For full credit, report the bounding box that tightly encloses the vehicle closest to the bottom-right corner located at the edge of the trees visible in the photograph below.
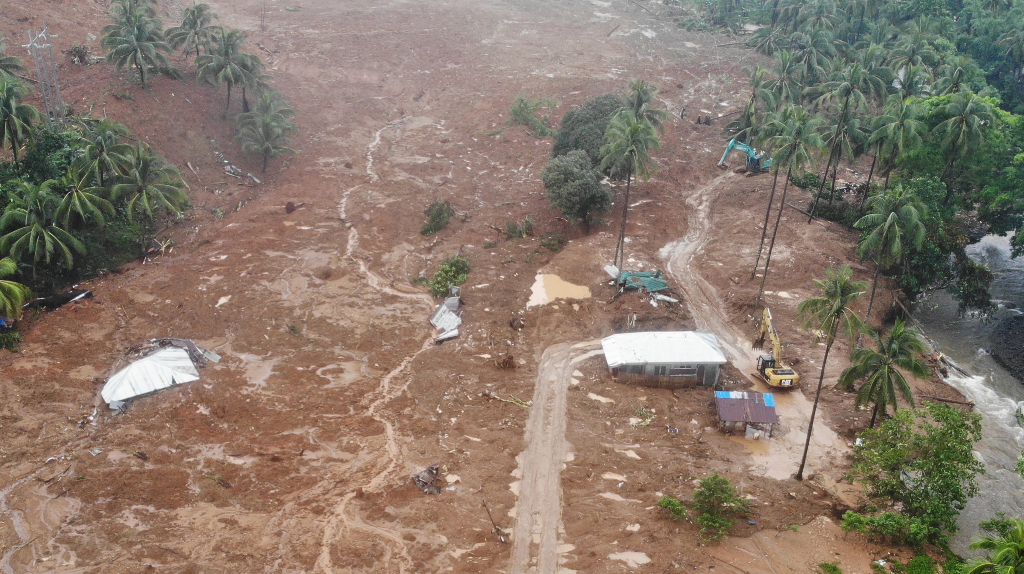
[744,291,802,388]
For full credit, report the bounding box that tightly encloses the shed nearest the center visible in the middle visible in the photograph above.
[430,286,465,342]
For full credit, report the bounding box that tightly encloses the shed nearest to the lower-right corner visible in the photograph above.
[714,392,777,439]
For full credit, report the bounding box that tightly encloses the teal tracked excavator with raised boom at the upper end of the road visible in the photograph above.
[713,145,769,176]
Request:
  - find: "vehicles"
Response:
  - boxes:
[713,145,769,176]
[744,291,802,388]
